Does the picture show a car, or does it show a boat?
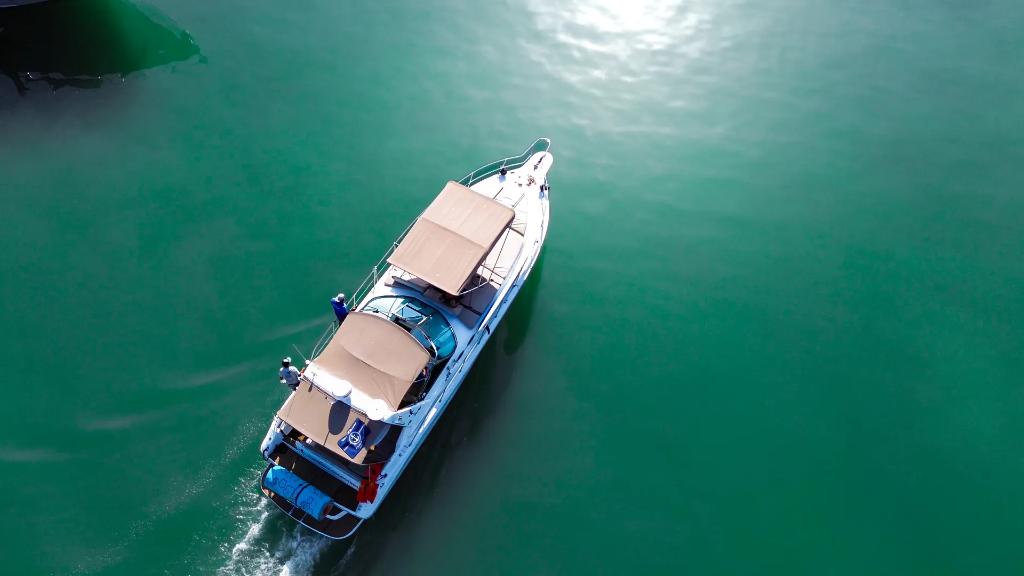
boat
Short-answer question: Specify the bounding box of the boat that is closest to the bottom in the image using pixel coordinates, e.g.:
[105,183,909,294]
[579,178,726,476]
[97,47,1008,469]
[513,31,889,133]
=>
[260,138,555,540]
